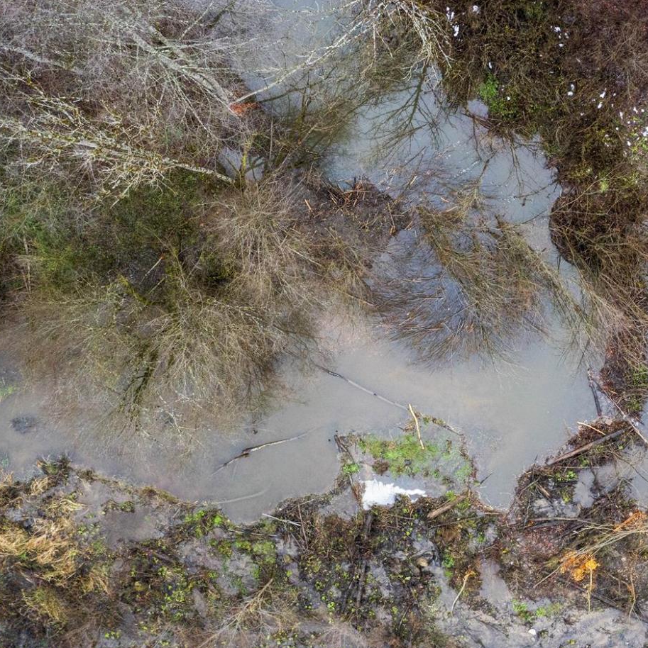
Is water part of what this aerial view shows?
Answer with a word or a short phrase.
Yes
